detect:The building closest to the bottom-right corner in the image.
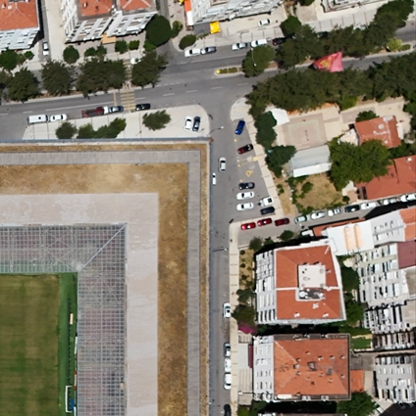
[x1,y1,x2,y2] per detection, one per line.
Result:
[375,356,416,406]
